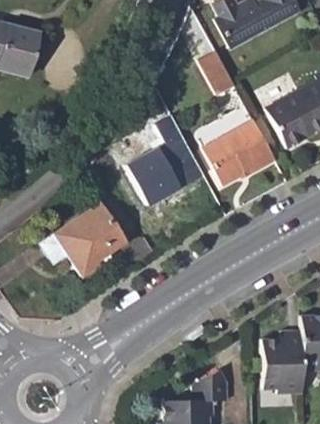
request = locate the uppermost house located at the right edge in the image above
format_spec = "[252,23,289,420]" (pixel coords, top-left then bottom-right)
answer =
[204,0,308,50]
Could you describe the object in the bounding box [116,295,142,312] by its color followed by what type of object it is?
white vehicle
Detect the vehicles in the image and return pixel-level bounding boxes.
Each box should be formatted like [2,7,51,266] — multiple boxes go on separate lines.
[278,218,300,234]
[116,295,142,312]
[252,274,275,292]
[269,198,291,215]
[211,315,232,330]
[144,272,166,290]
[182,325,204,344]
